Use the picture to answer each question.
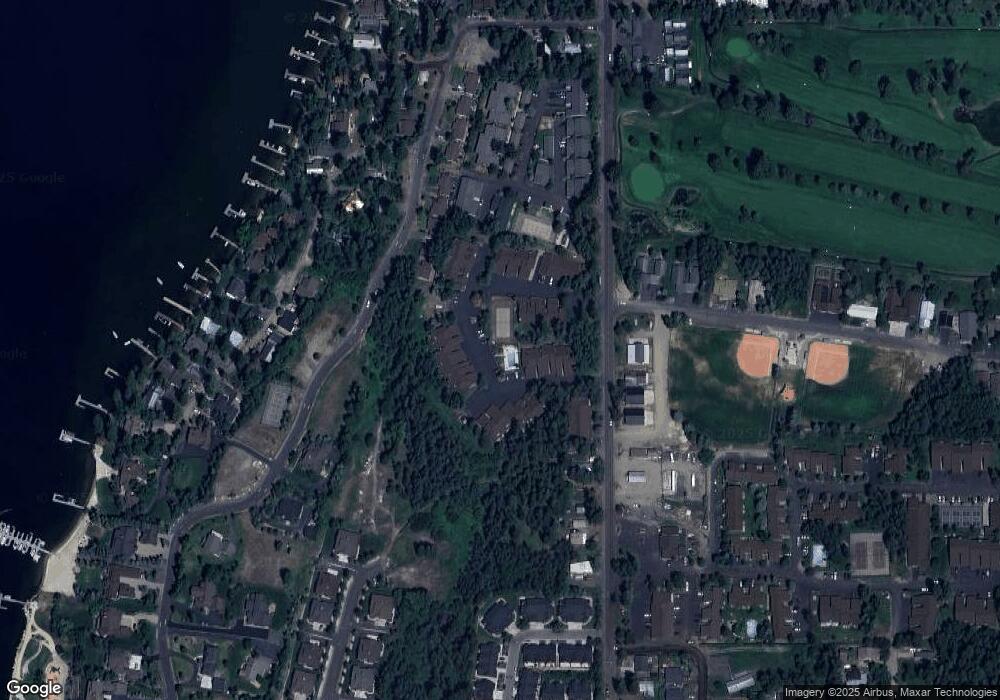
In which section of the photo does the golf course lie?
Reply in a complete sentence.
The golf course appears toward the top right of the photo.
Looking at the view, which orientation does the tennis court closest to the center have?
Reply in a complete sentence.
In this picture, the tennis court closest to the center is oriented up and down.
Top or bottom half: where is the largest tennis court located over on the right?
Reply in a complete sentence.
The largest tennis court located over on the right sits in the bottom half of the picture.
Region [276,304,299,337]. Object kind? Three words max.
house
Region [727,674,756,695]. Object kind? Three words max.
barn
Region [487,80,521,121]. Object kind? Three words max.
building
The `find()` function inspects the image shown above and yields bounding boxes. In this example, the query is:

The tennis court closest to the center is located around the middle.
[492,297,515,341]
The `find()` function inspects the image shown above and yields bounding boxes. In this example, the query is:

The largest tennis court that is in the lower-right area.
[850,533,890,575]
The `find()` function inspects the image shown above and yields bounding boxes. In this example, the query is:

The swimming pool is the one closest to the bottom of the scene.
[745,618,759,640]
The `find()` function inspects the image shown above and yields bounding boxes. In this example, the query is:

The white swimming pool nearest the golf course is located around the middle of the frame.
[503,344,519,371]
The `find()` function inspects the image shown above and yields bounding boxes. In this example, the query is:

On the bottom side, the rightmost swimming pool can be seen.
[812,542,828,568]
